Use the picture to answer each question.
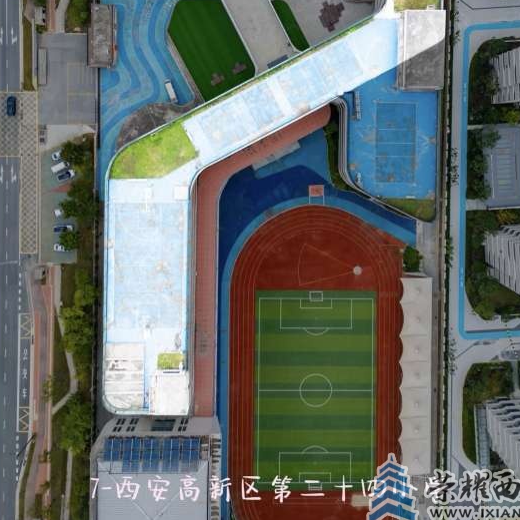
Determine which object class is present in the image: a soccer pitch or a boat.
soccer pitch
